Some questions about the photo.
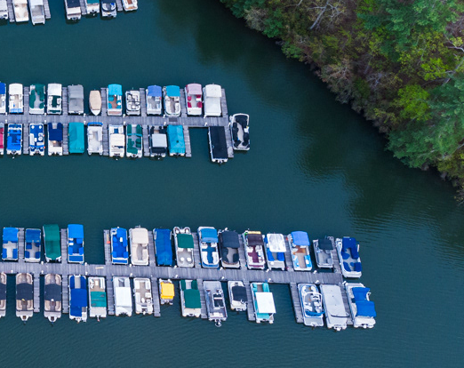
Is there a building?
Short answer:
No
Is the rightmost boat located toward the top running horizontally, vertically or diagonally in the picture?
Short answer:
vertically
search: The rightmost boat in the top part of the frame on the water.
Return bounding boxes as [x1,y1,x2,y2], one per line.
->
[232,113,252,150]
